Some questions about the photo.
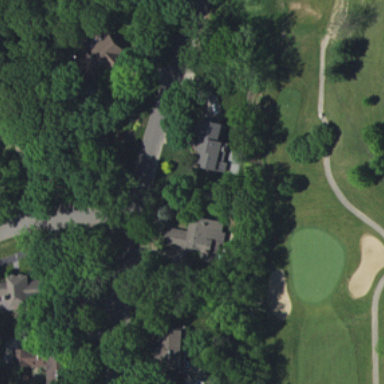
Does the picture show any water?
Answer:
No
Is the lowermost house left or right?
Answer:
left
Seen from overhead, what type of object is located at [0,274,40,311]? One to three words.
house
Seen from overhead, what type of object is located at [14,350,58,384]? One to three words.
house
